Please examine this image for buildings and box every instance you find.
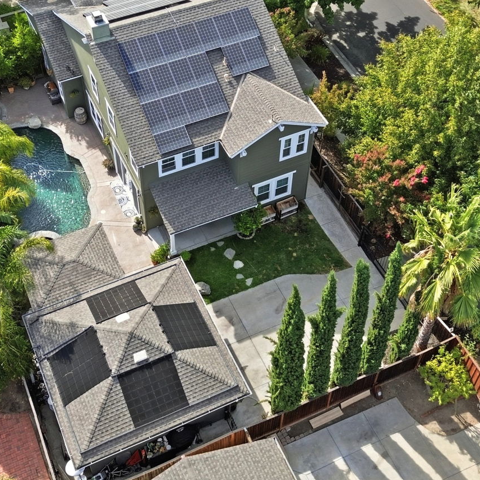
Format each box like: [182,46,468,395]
[161,436,301,480]
[20,256,253,476]
[17,0,335,256]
